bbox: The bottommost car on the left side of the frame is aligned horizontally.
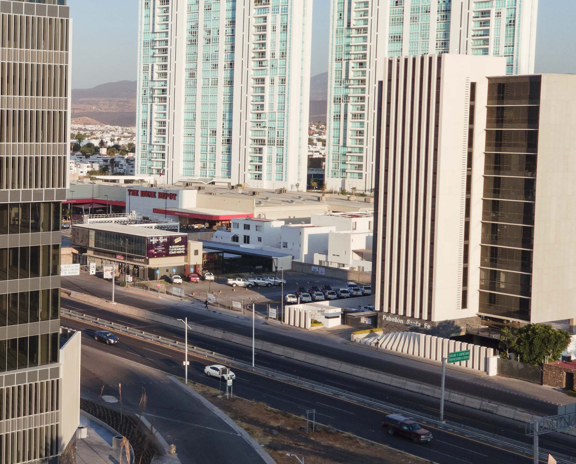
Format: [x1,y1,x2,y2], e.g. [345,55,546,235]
[203,365,236,381]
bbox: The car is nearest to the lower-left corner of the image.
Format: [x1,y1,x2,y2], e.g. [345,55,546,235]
[93,329,119,344]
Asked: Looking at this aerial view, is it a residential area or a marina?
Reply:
residential area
